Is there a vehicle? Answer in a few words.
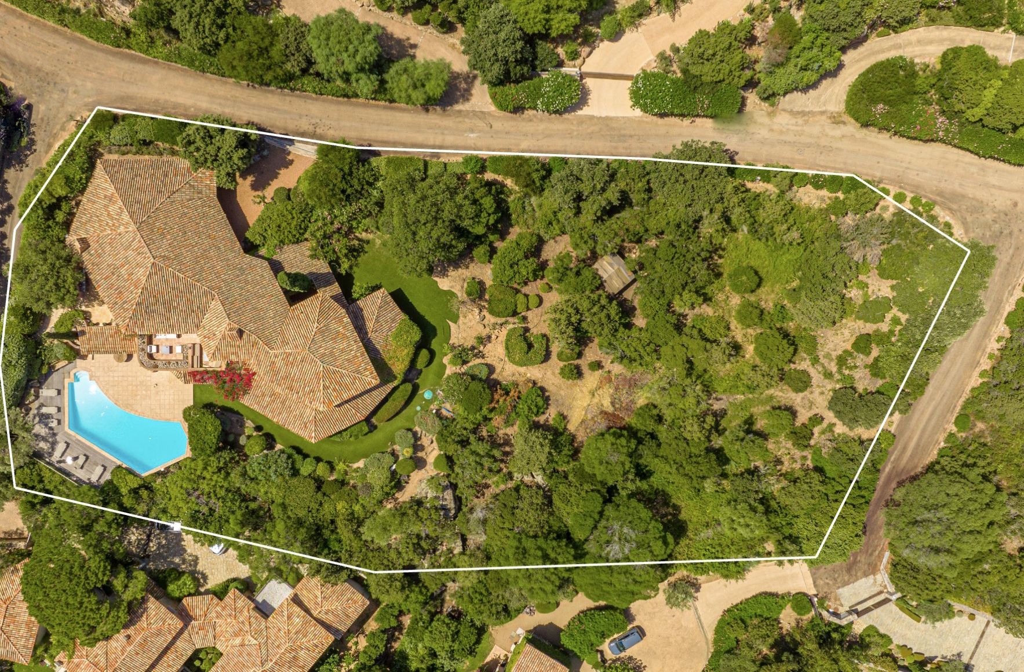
Yes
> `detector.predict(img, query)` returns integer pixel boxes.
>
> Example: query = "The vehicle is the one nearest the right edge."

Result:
[607,624,644,654]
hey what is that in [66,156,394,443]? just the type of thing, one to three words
house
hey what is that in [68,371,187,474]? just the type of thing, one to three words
swimming pool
